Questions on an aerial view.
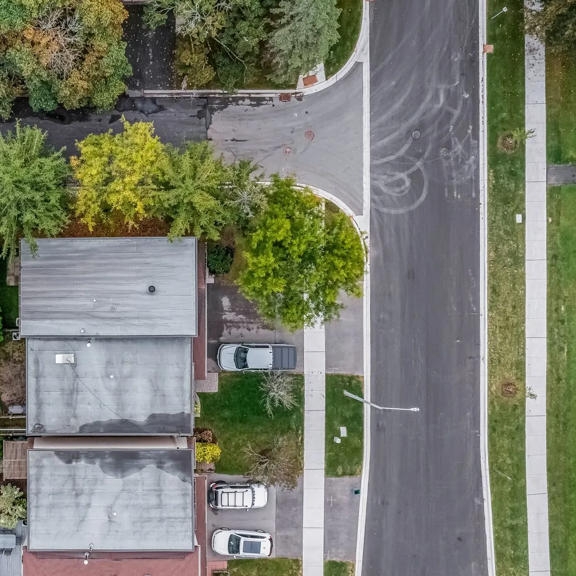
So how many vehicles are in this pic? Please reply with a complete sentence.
The picture shows 3 vehicles.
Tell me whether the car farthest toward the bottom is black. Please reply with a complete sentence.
No, the car farthest toward the bottom is actually white.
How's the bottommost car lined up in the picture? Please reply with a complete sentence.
What the image shows is the bottommost car lying from side to side.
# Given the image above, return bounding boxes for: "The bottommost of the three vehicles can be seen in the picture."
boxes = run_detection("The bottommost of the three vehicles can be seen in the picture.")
[208,528,272,562]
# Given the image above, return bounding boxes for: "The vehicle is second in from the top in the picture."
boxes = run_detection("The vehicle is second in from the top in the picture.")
[207,481,267,514]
